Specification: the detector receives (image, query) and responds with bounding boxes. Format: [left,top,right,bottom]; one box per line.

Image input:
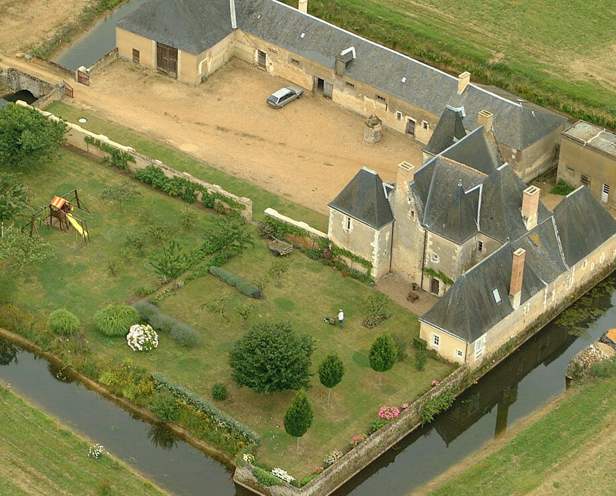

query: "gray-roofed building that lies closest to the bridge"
[112,0,238,86]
